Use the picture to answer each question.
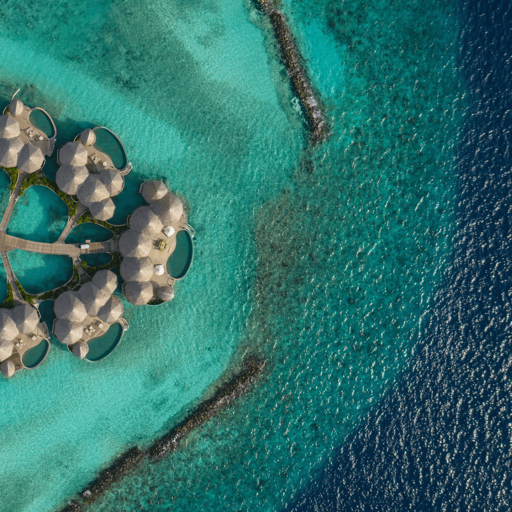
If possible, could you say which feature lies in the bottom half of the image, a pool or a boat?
pool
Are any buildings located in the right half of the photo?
No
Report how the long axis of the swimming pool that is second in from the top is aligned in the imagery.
at an angle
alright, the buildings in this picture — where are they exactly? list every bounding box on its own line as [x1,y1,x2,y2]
[51,268,129,364]
[56,126,133,222]
[0,99,57,176]
[111,179,195,307]
[0,304,51,378]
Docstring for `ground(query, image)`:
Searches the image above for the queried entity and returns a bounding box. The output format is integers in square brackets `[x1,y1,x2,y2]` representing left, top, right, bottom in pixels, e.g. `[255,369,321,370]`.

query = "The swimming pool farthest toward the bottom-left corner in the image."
[22,339,48,368]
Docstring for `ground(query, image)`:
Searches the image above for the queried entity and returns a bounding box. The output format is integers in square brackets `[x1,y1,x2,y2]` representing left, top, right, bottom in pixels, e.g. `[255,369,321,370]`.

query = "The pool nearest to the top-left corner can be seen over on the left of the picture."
[29,110,54,140]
